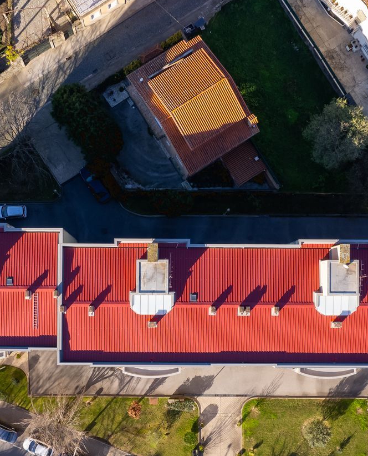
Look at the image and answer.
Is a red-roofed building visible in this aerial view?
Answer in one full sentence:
Yes, there's a red-roofed building down there.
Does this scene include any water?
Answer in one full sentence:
No, no water is visible.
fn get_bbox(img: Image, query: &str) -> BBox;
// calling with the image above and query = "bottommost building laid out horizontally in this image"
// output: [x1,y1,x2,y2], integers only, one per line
[58,238,368,379]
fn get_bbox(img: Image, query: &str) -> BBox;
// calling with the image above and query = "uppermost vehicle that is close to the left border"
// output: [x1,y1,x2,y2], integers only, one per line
[0,202,31,222]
